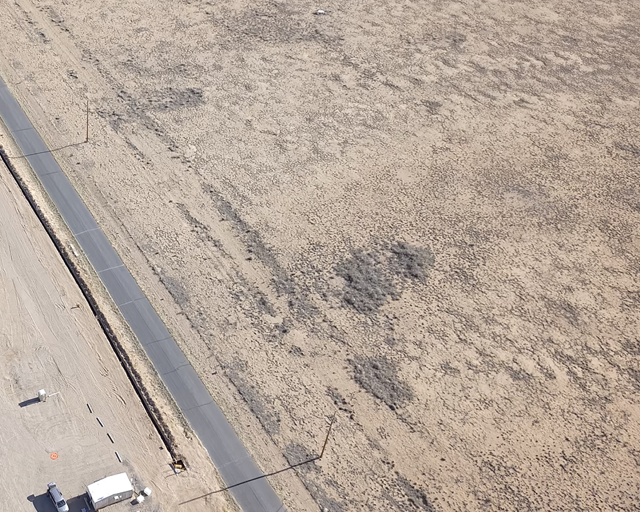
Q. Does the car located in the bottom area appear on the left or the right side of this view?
left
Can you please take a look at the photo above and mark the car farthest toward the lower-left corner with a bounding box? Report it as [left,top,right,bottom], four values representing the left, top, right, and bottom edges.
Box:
[48,482,69,512]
